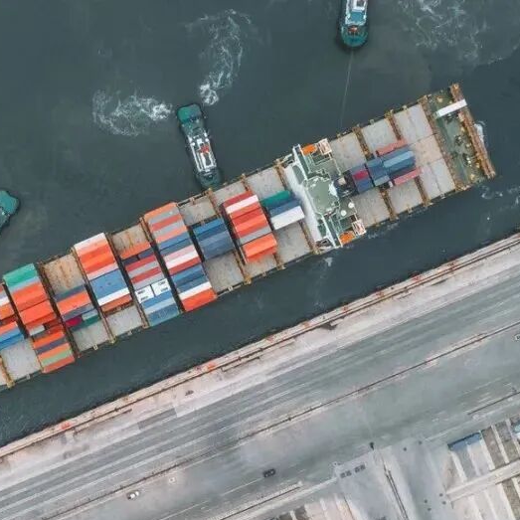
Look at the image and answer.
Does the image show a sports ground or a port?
port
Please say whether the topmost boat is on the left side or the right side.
right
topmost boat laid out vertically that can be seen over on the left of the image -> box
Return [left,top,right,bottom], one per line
[179,104,220,186]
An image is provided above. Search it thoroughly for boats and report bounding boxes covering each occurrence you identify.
[302,142,319,154]
[0,191,21,237]
[179,104,220,186]
[339,0,372,46]
[340,229,356,241]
